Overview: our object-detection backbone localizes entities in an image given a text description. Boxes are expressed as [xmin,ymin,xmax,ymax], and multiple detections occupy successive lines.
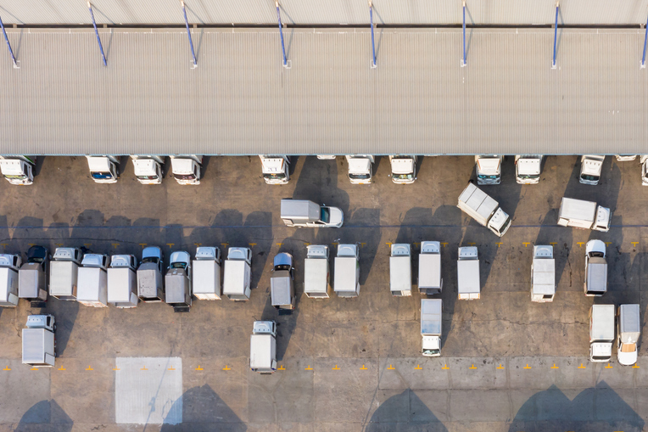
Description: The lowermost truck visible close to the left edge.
[20,313,60,369]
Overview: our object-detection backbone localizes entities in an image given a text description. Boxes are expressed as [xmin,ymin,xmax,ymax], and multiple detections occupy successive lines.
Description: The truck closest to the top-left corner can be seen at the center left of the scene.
[0,156,34,186]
